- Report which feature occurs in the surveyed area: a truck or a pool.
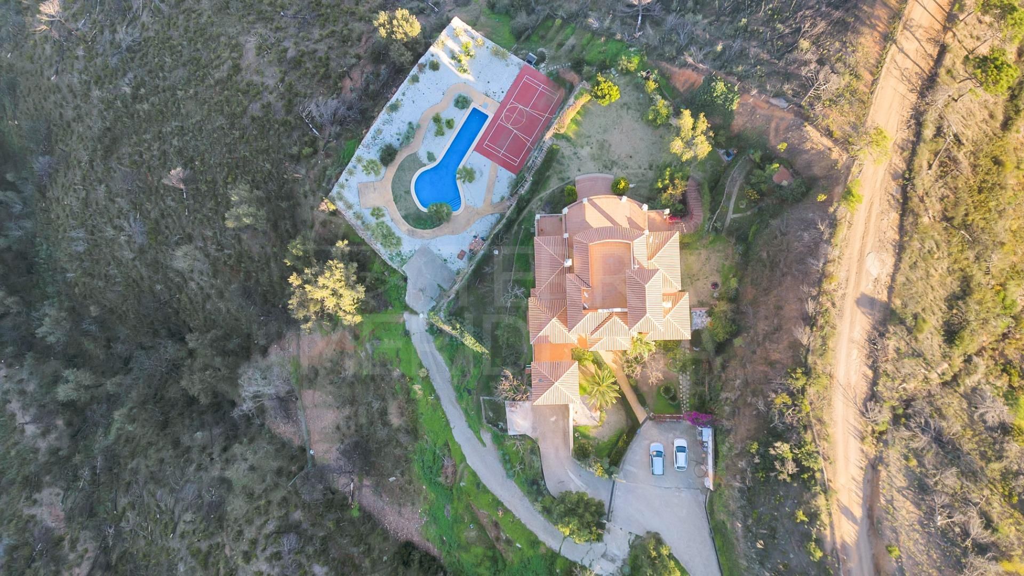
pool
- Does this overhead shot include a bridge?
No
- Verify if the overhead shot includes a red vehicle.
No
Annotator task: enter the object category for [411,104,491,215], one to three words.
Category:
swimming pool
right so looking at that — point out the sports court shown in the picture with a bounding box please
[474,64,563,174]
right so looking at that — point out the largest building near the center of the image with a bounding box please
[528,196,691,405]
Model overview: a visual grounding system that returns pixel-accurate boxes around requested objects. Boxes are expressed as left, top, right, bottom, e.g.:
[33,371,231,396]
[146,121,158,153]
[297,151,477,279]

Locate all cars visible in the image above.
[650,443,666,477]
[674,439,690,473]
